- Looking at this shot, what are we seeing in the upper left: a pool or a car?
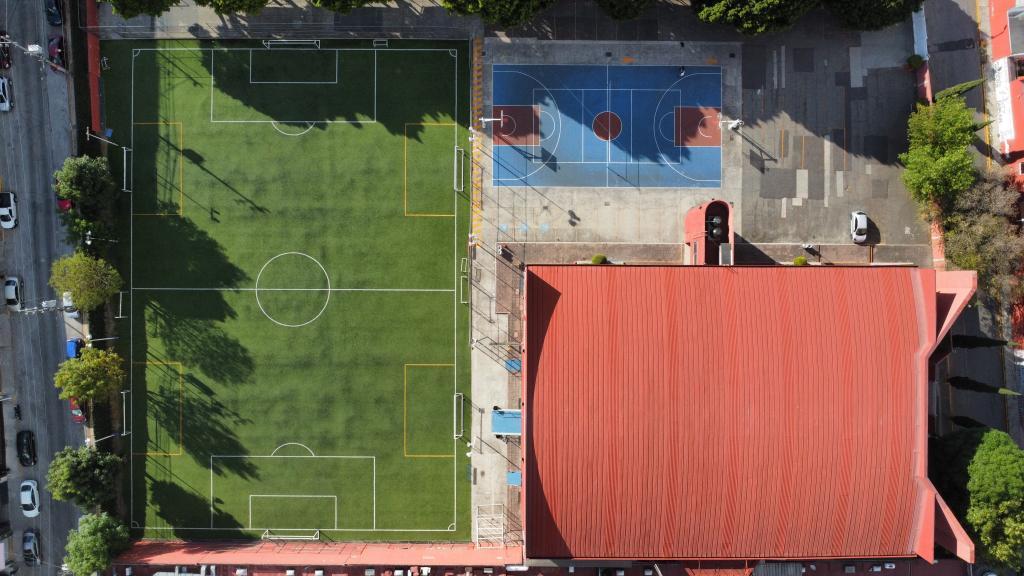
car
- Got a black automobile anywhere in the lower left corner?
Yes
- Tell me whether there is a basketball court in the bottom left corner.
No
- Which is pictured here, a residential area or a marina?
residential area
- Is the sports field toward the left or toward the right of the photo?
left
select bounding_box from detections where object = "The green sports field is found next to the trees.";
[103,40,470,541]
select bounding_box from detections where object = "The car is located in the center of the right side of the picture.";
[850,211,870,243]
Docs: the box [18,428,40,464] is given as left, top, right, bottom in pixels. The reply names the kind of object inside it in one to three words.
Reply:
car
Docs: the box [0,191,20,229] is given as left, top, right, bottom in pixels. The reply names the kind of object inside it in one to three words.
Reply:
vehicle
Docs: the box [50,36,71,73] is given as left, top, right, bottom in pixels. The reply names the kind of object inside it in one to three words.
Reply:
car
